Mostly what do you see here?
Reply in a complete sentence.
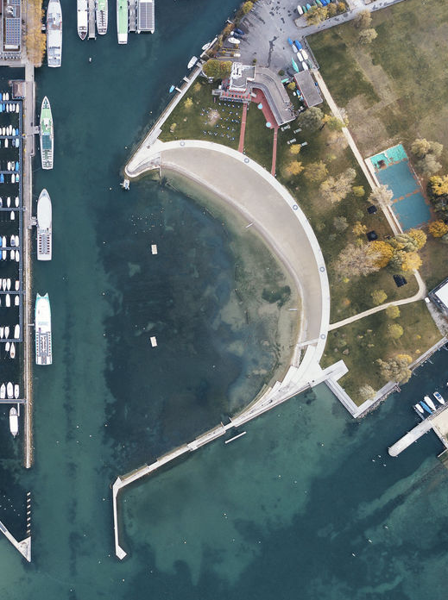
The largest share of the image is taken up by water.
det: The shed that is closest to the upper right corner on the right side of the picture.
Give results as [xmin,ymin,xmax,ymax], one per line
[293,71,323,107]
